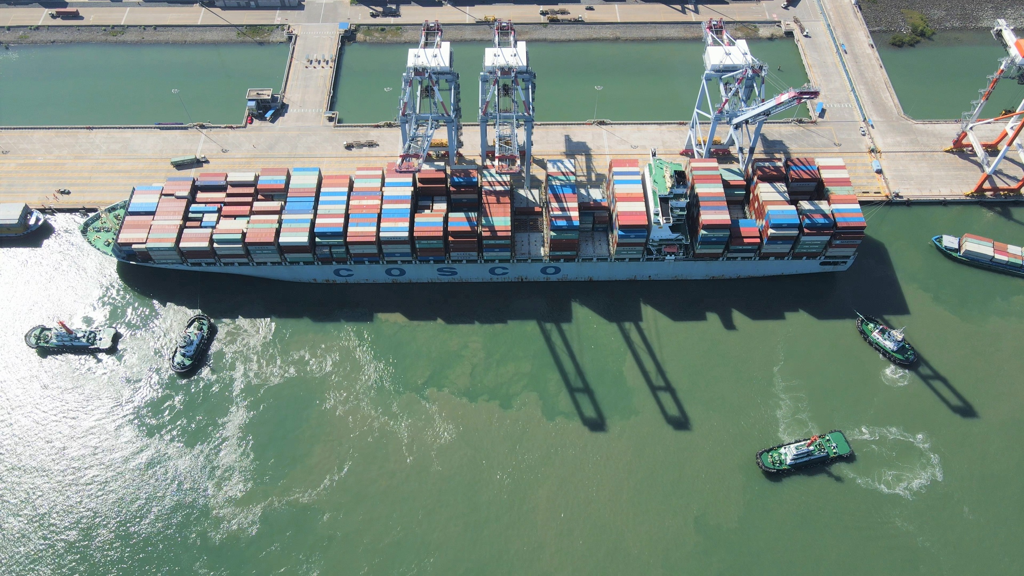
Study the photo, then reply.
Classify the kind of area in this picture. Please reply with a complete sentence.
This looks like a port.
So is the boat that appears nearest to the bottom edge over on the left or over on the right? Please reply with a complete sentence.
The boat that appears nearest to the bottom edge appears in the right half of the scene.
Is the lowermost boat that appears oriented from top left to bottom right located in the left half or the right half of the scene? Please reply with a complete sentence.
The lowermost boat that appears oriented from top left to bottom right sits on the right side.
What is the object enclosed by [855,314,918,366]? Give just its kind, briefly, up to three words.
boat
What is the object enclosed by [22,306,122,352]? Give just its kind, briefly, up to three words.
boat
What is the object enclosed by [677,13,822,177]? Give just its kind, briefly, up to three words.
container crane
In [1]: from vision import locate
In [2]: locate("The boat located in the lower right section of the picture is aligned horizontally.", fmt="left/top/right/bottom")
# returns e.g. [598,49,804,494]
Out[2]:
[755,423,857,471]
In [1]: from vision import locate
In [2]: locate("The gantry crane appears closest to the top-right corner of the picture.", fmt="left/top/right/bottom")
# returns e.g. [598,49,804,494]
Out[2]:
[941,13,1024,195]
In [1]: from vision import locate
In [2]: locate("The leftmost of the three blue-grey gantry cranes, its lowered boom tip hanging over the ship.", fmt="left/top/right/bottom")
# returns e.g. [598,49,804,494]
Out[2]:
[395,15,472,171]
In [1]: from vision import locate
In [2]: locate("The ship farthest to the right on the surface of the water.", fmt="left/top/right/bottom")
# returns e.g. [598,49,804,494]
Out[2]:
[923,230,1024,278]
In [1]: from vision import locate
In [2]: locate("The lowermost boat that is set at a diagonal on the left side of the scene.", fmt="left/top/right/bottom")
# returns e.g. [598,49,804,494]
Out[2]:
[169,312,215,372]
